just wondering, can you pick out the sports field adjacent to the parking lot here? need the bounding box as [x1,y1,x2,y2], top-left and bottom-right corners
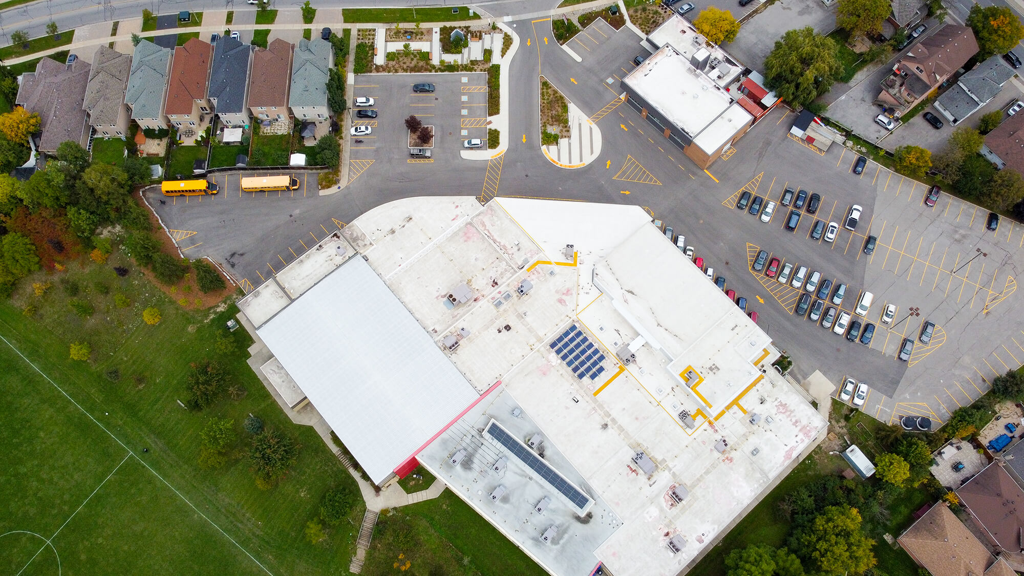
[0,320,299,576]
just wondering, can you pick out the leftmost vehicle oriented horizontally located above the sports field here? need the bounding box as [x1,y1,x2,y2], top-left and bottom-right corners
[159,179,222,198]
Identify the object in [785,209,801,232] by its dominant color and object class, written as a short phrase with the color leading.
blue vehicle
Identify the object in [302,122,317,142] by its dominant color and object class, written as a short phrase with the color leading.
gray gazebo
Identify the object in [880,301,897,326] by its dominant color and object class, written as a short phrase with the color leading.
white car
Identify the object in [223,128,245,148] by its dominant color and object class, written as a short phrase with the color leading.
white gazebo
